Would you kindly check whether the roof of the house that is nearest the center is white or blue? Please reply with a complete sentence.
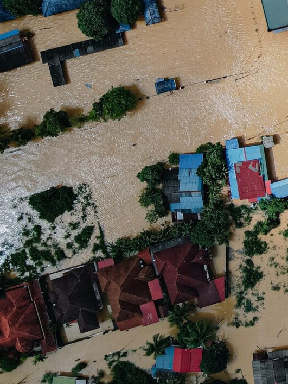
The color of the roof of the house that is nearest the center is blue.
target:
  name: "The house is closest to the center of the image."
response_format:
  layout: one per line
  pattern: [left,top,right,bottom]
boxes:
[163,153,206,222]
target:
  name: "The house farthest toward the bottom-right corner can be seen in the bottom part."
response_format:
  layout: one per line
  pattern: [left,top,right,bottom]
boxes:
[252,346,288,384]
